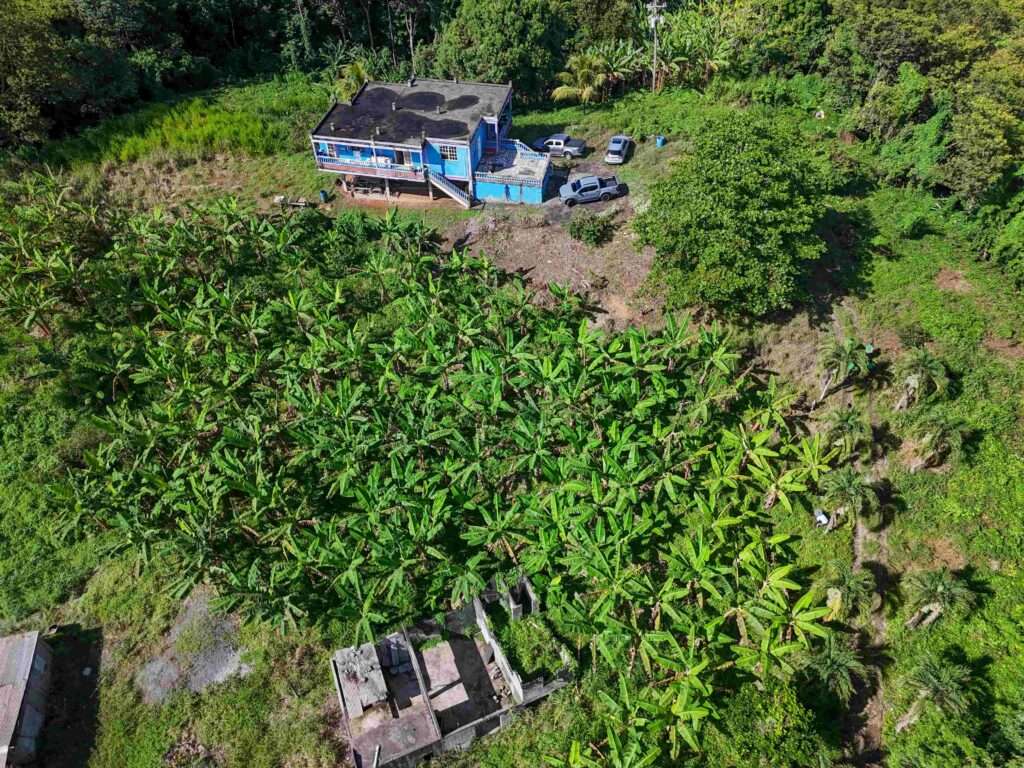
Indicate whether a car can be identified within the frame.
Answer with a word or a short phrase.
Yes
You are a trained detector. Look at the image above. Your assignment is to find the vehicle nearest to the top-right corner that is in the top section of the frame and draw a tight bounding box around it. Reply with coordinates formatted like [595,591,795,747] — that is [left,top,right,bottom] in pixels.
[601,135,633,163]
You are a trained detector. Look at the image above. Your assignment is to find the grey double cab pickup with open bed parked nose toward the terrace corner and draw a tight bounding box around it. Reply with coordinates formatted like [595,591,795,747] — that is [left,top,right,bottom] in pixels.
[556,175,626,209]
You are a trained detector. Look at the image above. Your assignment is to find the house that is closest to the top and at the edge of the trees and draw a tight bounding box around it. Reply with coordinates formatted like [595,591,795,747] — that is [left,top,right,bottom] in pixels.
[310,74,552,213]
